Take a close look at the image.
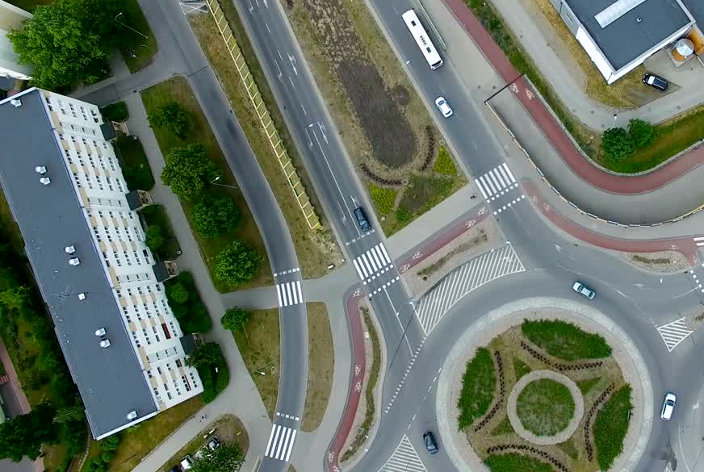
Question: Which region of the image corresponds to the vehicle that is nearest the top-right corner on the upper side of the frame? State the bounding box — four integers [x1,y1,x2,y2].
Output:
[641,75,669,91]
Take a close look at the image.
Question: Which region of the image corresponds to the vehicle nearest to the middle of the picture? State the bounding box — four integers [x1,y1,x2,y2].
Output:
[353,205,369,232]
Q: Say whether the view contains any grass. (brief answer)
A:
Yes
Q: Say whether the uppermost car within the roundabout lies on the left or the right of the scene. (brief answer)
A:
right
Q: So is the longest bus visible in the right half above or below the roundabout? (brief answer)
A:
above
